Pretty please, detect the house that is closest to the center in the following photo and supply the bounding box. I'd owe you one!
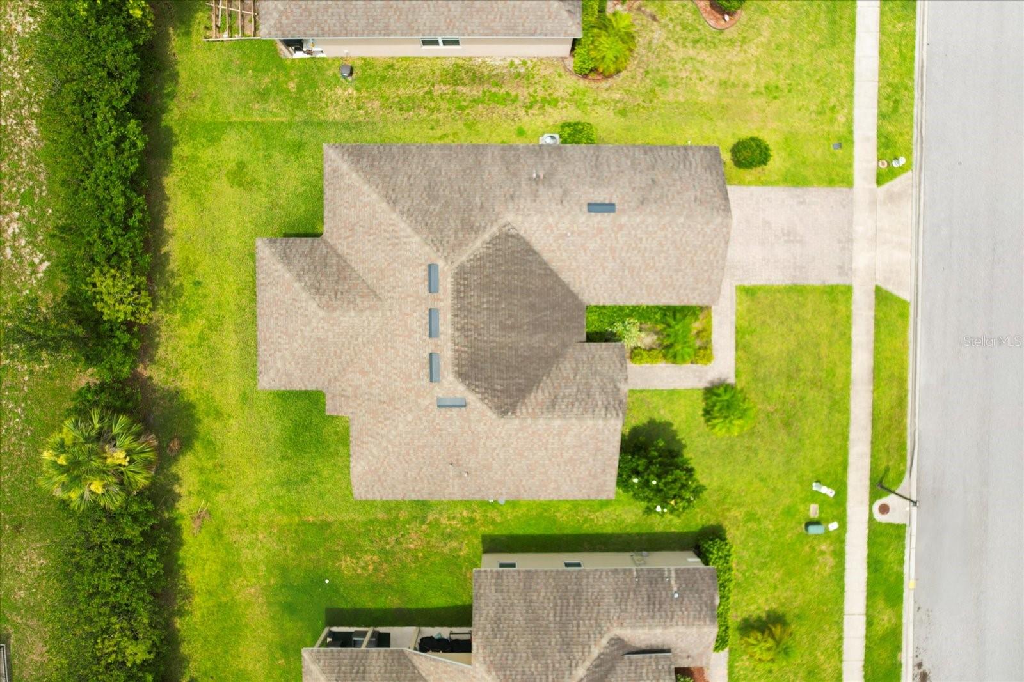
[257,145,732,500]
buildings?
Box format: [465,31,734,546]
[302,551,722,682]
[257,145,732,500]
[259,0,581,58]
